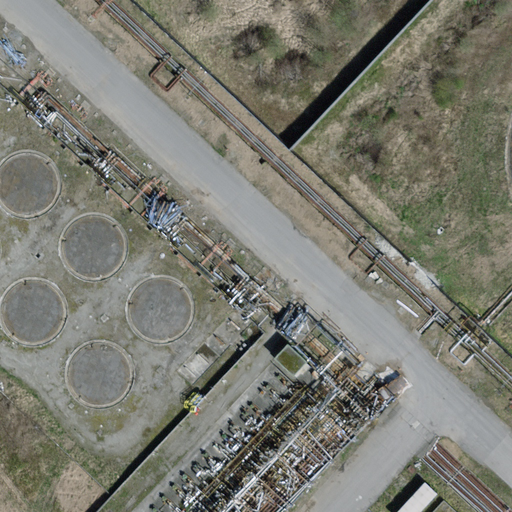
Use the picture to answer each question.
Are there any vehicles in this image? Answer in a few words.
No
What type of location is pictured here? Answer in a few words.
industrial area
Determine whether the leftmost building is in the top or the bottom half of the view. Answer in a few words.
bottom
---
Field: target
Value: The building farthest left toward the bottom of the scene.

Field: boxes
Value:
[272,344,312,381]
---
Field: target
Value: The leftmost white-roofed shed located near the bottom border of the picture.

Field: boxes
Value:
[401,484,438,512]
